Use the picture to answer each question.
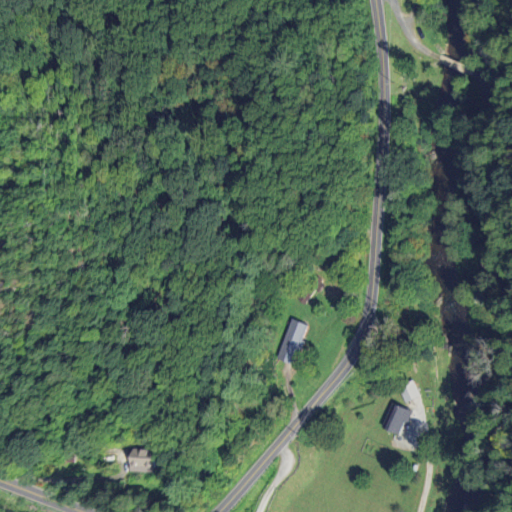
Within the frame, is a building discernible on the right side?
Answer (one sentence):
Yes, a building shows up on the right side.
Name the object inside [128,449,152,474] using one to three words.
house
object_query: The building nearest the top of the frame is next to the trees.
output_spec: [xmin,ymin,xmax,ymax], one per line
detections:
[278,320,310,366]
